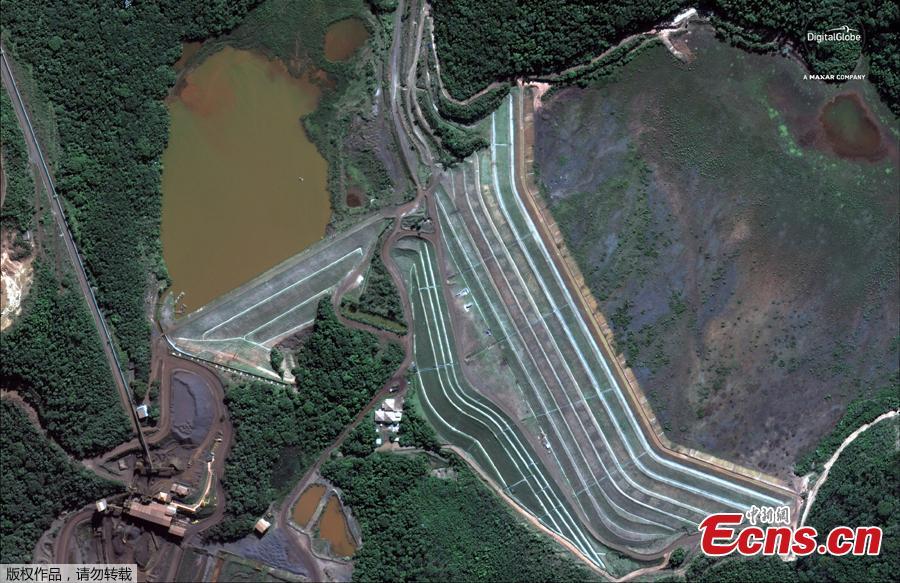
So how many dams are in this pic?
2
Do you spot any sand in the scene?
Yes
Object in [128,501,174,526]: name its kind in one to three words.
building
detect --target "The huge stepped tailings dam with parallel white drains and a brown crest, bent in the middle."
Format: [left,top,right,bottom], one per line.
[435,80,804,555]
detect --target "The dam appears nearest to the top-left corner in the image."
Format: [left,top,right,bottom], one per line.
[173,224,386,352]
